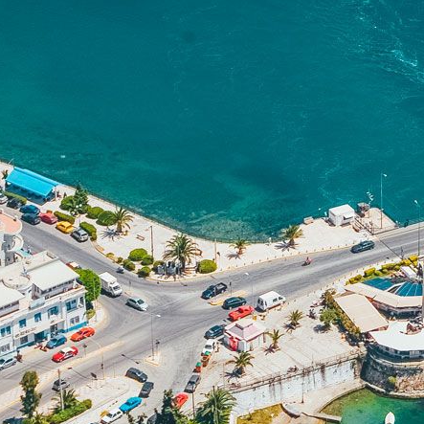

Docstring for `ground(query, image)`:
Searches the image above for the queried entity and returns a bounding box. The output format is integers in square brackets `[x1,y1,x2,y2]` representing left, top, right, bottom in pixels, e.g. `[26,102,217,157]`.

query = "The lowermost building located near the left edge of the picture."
[0,249,91,356]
